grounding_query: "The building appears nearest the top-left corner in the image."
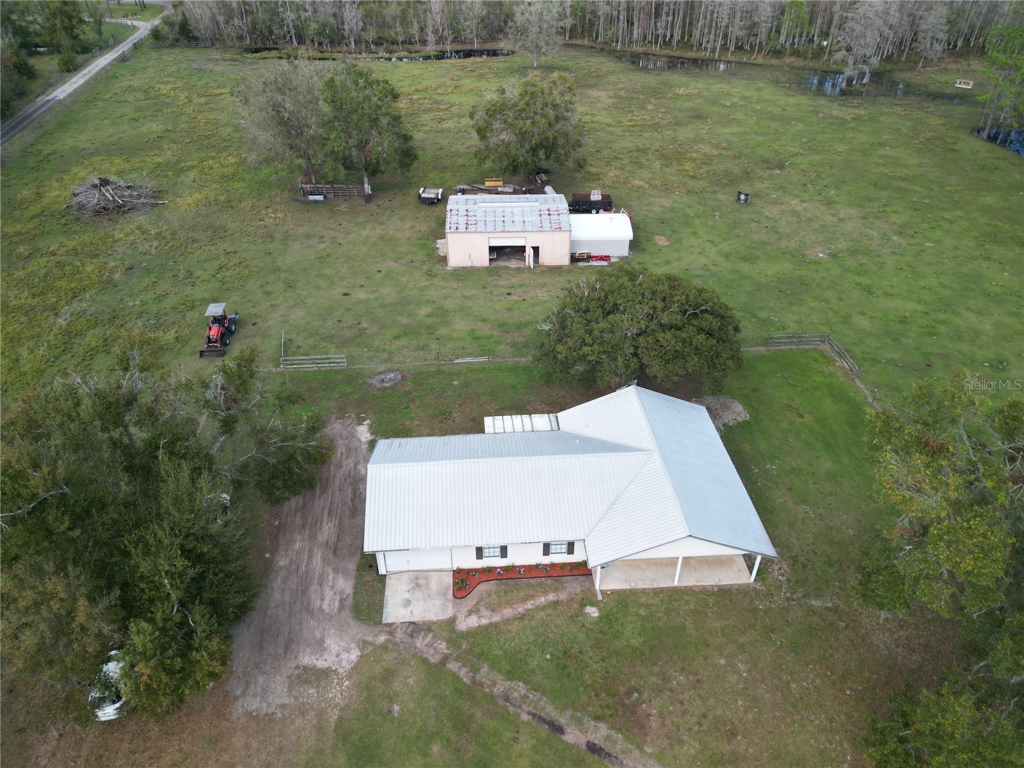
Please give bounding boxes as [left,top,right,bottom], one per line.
[445,193,573,269]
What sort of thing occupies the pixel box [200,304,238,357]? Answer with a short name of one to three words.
work vehicle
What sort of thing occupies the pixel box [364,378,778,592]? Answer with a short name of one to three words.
house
